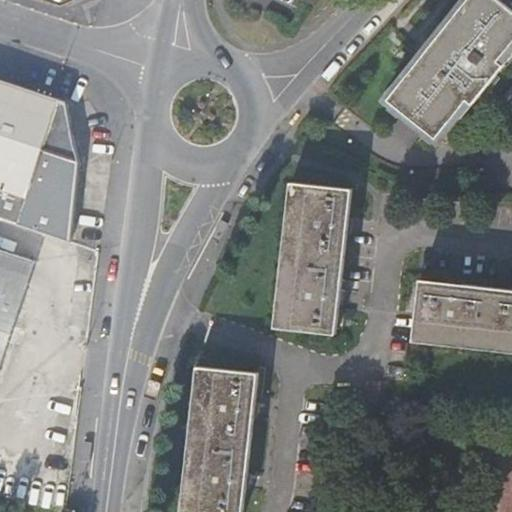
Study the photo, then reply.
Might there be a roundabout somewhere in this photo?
Yes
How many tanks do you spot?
0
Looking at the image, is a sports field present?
No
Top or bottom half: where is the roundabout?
top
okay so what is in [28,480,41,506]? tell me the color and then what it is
white vehicle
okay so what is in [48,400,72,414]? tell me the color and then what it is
white vehicle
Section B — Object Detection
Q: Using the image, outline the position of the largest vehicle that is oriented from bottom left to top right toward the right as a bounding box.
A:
[320,56,345,82]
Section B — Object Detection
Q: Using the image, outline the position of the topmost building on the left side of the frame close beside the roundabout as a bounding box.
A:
[0,78,80,242]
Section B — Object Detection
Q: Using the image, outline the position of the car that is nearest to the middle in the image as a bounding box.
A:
[236,180,252,198]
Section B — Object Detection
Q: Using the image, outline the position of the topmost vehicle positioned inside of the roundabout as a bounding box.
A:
[215,46,233,68]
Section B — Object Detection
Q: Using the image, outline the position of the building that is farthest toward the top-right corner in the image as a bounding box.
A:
[379,0,512,146]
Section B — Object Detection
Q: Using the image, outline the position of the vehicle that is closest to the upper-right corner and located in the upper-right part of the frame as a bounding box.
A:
[364,16,382,35]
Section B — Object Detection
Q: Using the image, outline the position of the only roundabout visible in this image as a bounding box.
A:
[134,42,274,182]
